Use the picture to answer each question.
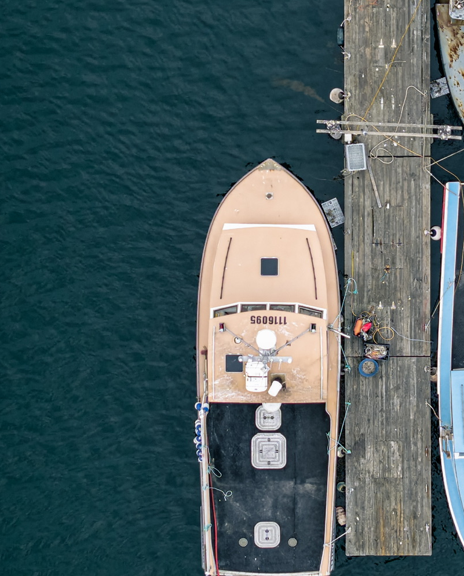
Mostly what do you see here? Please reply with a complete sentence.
What you mostly see from above here is water.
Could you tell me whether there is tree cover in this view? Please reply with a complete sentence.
No, the scene doesn't show any tree cover.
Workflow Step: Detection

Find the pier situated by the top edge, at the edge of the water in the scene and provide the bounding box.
[344,0,431,156]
